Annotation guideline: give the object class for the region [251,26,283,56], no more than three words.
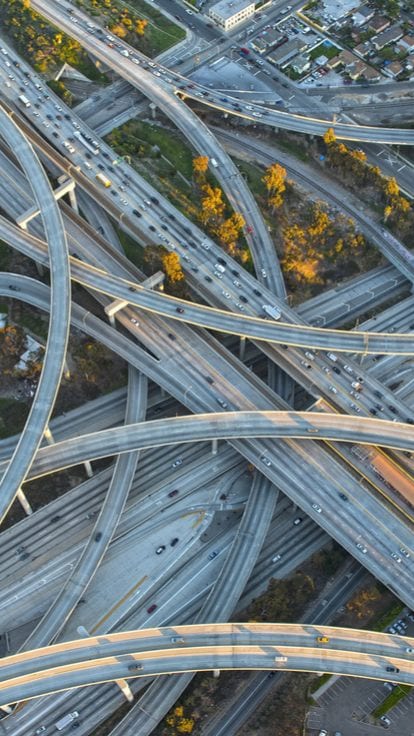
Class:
building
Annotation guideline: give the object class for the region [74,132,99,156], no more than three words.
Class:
truck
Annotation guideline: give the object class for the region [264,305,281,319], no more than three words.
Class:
vehicle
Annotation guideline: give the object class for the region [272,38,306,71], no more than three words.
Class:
building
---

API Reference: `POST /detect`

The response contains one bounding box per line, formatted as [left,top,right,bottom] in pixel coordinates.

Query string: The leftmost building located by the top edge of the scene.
[208,0,245,31]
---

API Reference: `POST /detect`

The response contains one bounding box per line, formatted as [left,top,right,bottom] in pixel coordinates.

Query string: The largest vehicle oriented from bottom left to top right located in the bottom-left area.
[57,713,77,730]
